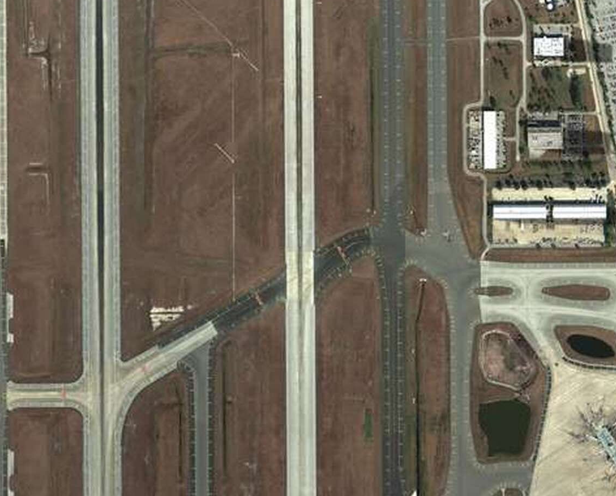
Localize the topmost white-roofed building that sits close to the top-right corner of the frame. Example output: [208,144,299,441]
[534,36,564,56]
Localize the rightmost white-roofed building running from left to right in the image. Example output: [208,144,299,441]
[553,205,607,221]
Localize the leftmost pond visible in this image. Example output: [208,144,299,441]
[478,399,530,456]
